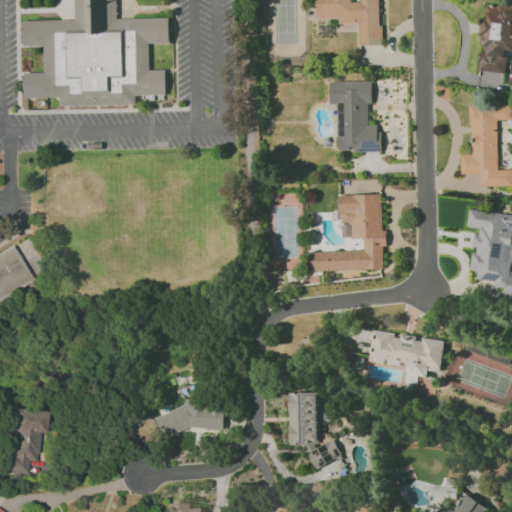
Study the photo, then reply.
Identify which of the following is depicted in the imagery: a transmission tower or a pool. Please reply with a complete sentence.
The image shows a pool.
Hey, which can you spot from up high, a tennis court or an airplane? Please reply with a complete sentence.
This aerial view contains a tennis court.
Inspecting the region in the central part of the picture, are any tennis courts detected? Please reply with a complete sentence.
Yes, I can see a tennis court in the central part of the picture.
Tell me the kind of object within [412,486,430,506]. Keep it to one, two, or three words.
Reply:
swimming pool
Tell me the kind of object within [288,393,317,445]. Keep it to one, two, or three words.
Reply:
house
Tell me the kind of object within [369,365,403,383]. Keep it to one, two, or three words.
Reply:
swimming pool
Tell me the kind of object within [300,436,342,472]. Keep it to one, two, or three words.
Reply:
building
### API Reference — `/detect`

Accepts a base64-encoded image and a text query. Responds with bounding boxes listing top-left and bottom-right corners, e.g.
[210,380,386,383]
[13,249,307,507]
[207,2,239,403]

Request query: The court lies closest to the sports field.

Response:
[271,195,304,272]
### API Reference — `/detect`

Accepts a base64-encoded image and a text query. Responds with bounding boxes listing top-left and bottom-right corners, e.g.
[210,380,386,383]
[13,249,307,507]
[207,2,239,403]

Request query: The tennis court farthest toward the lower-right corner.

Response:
[448,350,512,405]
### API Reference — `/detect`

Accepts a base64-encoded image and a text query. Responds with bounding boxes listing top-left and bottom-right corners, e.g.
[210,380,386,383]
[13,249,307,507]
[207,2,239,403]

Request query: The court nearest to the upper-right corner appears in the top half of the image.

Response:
[271,0,310,58]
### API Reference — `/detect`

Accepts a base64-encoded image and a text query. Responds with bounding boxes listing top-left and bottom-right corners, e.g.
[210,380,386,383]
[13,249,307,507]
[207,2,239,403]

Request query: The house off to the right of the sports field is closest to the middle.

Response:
[312,194,386,272]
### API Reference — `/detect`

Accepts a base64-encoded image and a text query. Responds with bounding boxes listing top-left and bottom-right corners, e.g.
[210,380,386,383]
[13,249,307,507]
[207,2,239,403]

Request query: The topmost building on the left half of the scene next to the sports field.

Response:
[22,0,168,105]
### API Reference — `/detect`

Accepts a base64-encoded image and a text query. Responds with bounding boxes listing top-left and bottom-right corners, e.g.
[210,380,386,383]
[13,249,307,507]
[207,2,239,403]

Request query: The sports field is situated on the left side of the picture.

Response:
[46,150,247,296]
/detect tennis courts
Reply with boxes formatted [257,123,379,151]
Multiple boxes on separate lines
[271,0,310,58]
[271,195,304,272]
[448,350,512,405]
